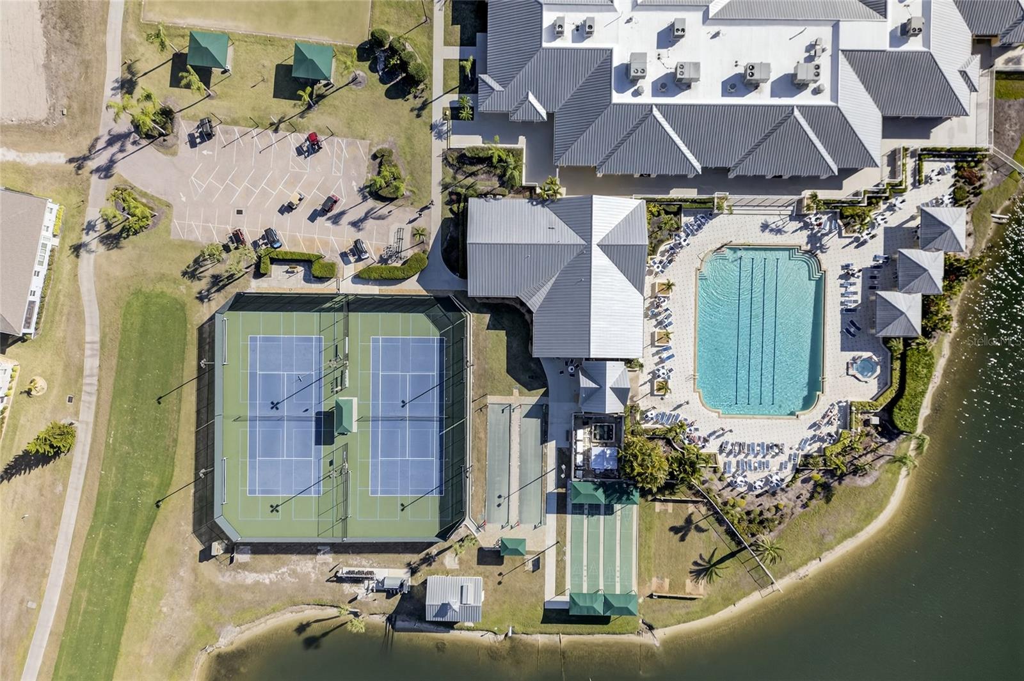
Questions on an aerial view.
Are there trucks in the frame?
No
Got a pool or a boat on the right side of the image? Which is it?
pool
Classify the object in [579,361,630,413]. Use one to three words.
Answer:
building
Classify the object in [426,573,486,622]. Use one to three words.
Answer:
shed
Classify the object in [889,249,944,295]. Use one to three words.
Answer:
building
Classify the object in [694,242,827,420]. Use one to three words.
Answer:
swimming pool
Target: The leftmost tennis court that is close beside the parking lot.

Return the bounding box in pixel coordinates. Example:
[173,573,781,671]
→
[223,294,348,537]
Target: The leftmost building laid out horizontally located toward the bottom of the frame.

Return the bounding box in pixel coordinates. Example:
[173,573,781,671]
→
[340,568,410,593]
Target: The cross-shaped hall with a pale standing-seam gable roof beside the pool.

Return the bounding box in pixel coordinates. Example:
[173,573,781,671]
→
[468,195,648,358]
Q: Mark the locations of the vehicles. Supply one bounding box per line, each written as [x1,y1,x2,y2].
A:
[196,119,213,137]
[319,194,337,210]
[305,133,320,150]
[261,226,279,246]
[351,236,367,256]
[286,191,303,208]
[228,228,244,245]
